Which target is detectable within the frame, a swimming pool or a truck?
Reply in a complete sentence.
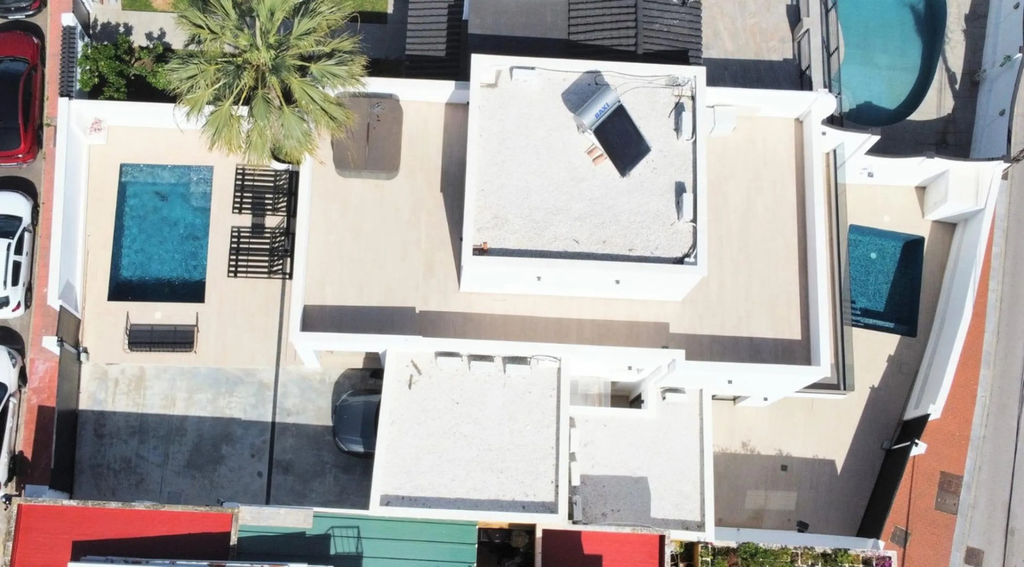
Of the two, only a swimming pool appears.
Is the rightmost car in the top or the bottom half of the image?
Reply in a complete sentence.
The rightmost car is in the bottom half of the image.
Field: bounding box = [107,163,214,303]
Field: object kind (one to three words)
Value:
swimming pool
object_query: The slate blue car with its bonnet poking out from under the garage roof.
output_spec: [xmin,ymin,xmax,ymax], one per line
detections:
[332,389,381,458]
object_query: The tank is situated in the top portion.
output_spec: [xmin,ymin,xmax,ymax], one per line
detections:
[577,86,621,130]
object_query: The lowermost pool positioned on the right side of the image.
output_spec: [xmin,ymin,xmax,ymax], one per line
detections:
[841,223,925,338]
